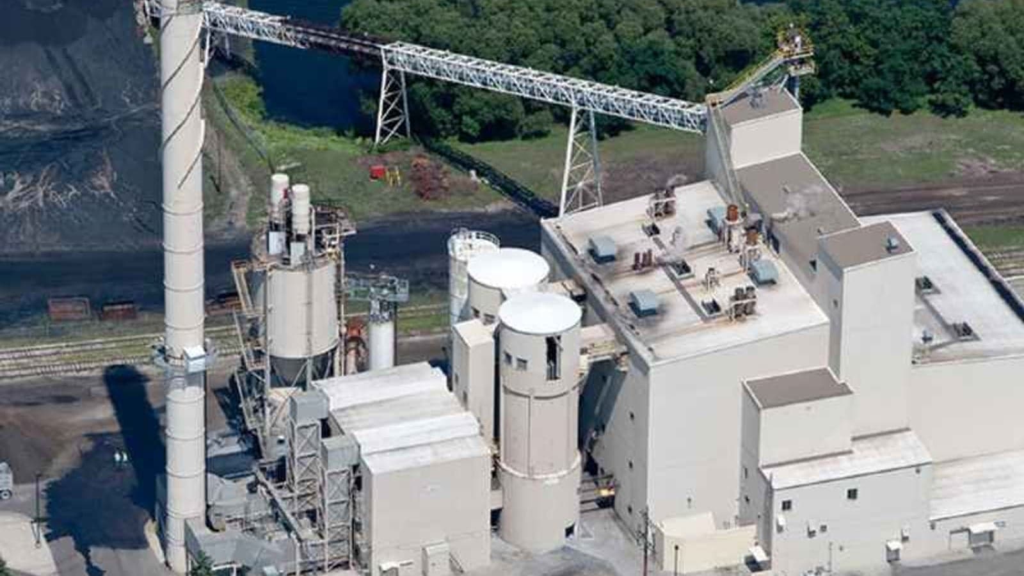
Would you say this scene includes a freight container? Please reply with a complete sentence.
Yes, a freight container is visible in the scene.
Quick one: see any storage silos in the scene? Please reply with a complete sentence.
Yes, the picture does show a storage silo.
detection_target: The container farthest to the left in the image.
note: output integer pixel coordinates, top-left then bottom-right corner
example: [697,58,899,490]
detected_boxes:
[47,294,91,320]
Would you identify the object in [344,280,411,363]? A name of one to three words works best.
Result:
silo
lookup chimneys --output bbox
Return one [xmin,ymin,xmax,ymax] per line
[151,0,217,576]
